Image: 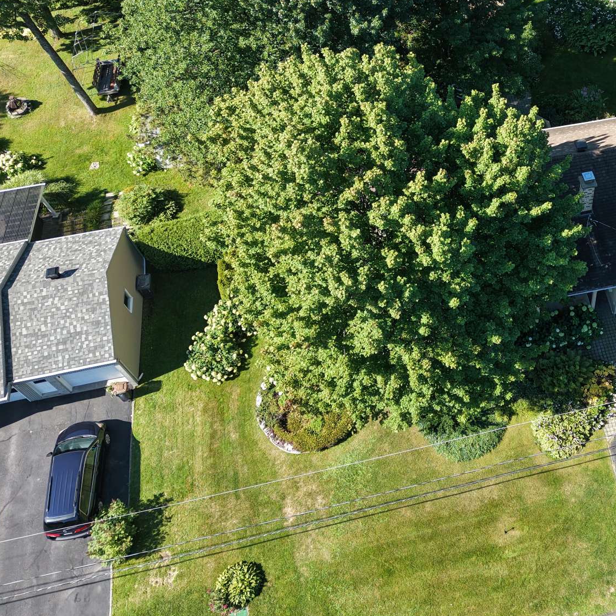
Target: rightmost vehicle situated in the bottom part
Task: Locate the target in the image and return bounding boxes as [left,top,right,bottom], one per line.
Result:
[33,420,108,547]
